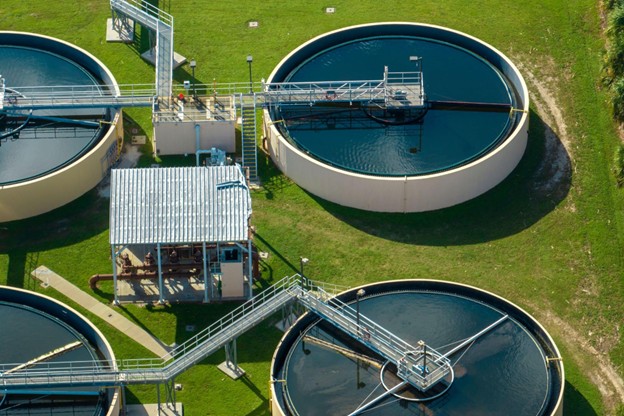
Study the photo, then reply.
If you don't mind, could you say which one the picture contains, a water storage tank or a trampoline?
water storage tank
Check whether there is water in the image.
Yes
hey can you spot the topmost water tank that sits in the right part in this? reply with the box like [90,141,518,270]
[264,22,528,214]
